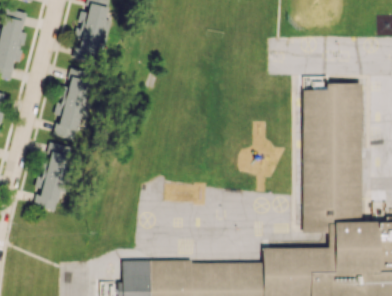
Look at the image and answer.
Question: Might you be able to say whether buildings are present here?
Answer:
Yes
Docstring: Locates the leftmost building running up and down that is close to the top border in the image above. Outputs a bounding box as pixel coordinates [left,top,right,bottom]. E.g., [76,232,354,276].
[0,10,28,81]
